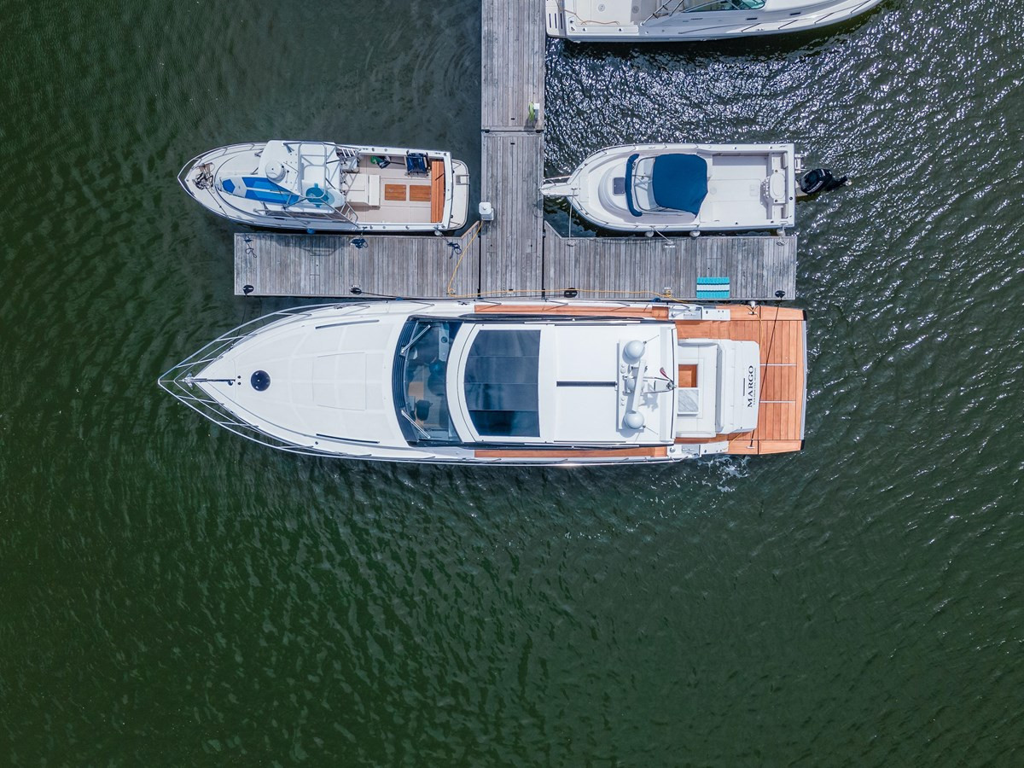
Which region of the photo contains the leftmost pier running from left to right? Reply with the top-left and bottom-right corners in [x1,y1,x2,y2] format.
[235,221,482,298]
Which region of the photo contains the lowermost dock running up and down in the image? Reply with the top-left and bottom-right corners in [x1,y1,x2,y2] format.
[482,132,543,299]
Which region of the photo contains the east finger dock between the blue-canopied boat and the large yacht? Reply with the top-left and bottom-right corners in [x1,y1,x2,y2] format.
[543,222,797,300]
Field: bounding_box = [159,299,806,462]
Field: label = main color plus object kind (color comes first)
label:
white boat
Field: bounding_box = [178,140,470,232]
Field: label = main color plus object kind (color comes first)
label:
white boat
